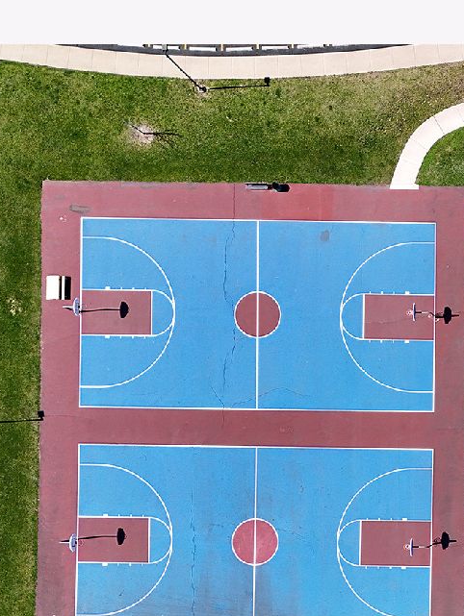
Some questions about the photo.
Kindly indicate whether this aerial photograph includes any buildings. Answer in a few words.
No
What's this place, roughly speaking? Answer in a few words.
sports ground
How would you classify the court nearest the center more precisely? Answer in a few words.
basketball court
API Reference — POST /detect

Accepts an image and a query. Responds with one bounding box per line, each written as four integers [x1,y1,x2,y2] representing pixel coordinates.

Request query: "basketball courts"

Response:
[79,218,436,413]
[75,445,434,616]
